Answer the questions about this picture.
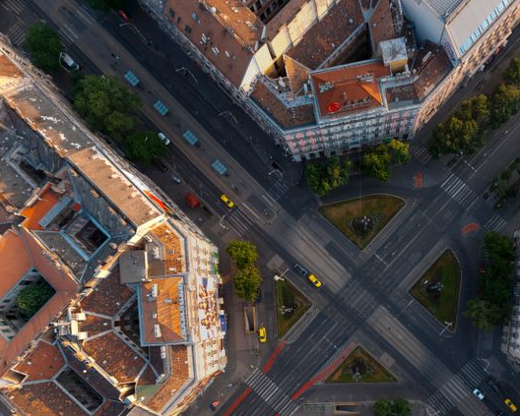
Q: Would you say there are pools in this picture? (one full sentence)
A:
No, there is no pool in the image.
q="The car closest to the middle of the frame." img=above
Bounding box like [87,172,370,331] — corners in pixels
[221,194,235,207]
